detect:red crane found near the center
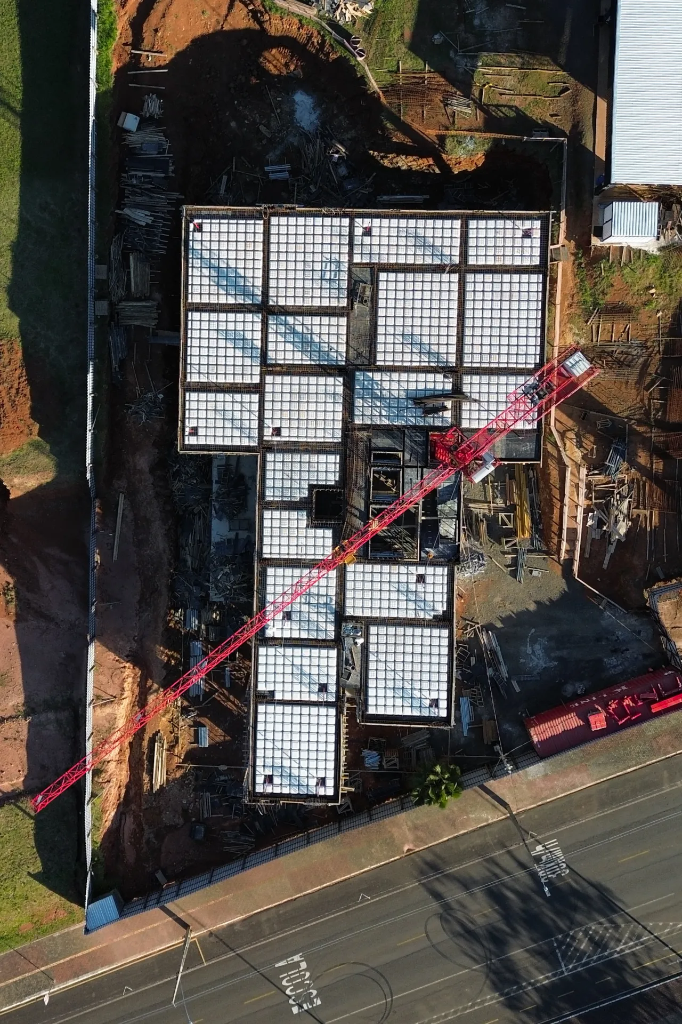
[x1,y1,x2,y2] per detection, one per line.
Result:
[29,337,603,810]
